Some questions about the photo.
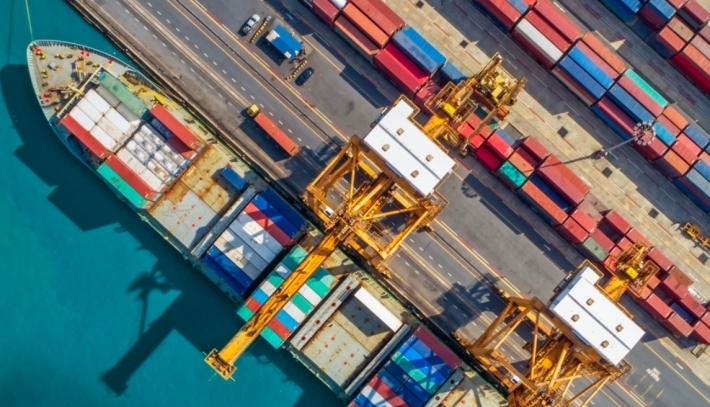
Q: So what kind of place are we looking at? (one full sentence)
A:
It's a port.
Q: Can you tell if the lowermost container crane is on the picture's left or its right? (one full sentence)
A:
You can find the lowermost container crane on the right side of the picture.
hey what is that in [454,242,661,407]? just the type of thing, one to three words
container crane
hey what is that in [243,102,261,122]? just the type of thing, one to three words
vehicle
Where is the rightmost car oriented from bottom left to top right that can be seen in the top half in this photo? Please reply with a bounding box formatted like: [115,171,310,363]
[294,67,313,85]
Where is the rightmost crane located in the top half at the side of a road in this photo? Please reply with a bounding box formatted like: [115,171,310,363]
[447,50,525,157]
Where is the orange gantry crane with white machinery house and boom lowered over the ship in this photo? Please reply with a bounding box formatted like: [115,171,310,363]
[202,78,478,379]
